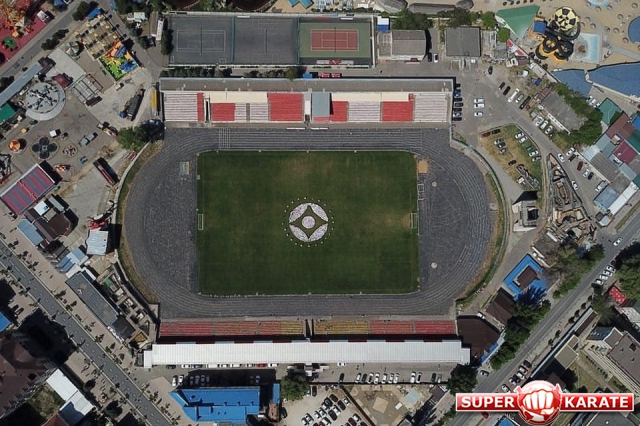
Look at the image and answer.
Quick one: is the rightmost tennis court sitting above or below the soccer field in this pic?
above it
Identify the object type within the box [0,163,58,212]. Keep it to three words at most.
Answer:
building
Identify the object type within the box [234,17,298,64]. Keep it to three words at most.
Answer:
basketball court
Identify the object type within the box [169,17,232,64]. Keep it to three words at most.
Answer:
tennis court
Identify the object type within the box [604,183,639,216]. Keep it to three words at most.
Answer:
house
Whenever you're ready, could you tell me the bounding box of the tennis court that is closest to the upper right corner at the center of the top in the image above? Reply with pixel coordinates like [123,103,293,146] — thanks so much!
[299,17,371,65]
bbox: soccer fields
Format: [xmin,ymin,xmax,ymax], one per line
[197,151,419,294]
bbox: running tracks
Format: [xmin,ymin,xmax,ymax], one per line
[124,127,492,317]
